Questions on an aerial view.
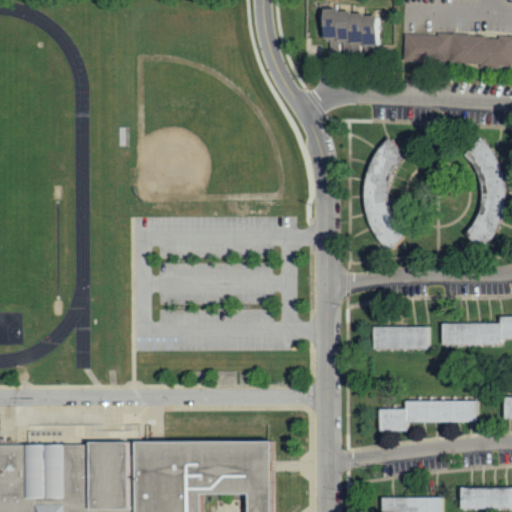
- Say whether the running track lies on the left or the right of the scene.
left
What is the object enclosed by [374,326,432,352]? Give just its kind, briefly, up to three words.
building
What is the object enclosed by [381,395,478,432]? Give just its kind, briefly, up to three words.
building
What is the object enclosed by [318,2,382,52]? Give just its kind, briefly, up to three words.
house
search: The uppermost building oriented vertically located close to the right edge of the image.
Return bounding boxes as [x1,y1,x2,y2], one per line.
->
[468,138,508,244]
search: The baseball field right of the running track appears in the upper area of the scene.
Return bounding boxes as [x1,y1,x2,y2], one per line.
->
[137,54,284,212]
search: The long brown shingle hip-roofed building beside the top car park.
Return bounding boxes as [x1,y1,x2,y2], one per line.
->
[405,32,512,69]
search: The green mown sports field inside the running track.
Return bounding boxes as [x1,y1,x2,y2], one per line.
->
[0,16,76,356]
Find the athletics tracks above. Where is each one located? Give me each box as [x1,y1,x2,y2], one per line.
[0,4,90,369]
